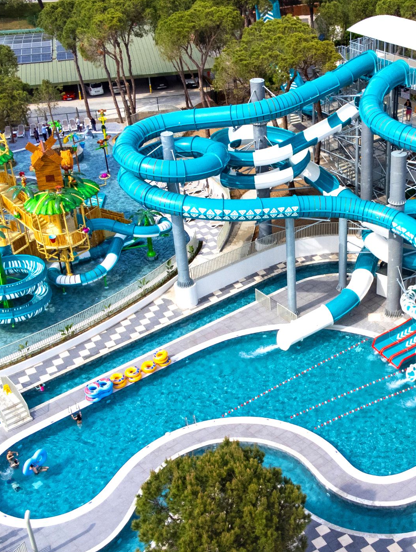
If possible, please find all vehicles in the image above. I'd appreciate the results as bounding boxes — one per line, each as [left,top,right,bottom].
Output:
[109,80,129,93]
[87,82,106,96]
[183,73,202,84]
[151,75,170,89]
[59,85,76,99]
